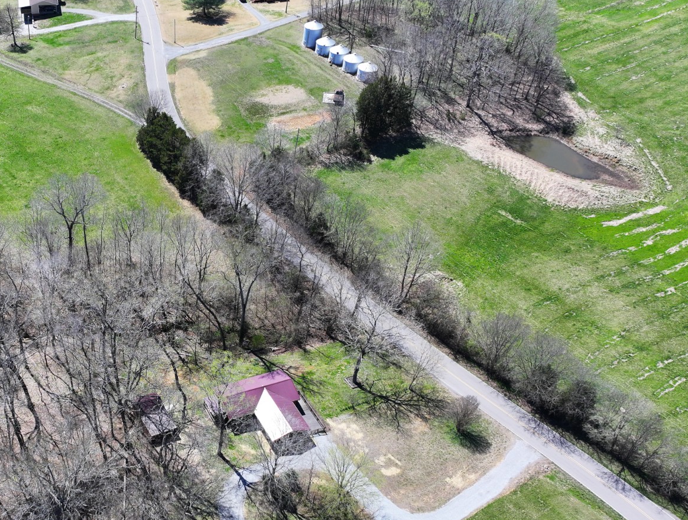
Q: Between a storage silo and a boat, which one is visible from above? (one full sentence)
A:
Of the two, only a storage silo appears.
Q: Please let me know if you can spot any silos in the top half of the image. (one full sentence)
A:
Yes, a silo shows up in the top half of the image.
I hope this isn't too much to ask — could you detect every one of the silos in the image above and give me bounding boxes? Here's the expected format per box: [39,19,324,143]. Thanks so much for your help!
[327,44,350,67]
[342,51,365,74]
[314,35,337,58]
[301,19,324,51]
[356,60,379,84]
